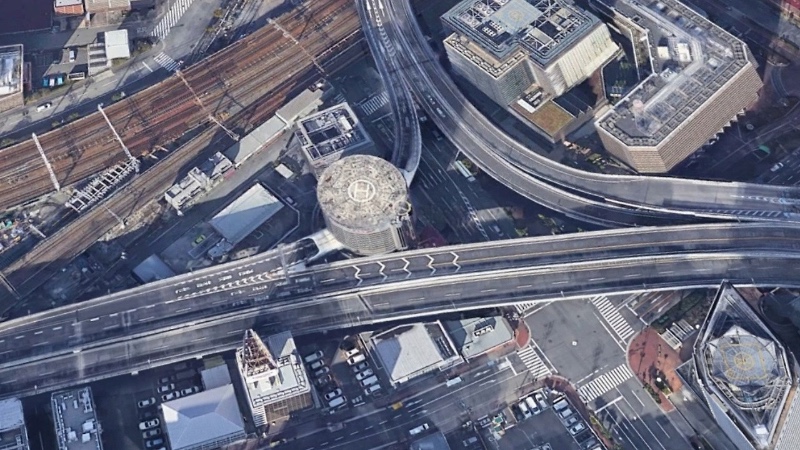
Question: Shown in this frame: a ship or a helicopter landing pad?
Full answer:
The one in the frame is a helicopter landing pad.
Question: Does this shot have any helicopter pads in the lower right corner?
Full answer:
Yes, there is a helicopter pad in the lower right corner.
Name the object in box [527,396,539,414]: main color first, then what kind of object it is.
white vehicle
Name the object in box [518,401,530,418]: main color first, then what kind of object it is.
white vehicle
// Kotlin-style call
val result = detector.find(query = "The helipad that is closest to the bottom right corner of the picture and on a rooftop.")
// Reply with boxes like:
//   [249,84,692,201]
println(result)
[710,330,777,390]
